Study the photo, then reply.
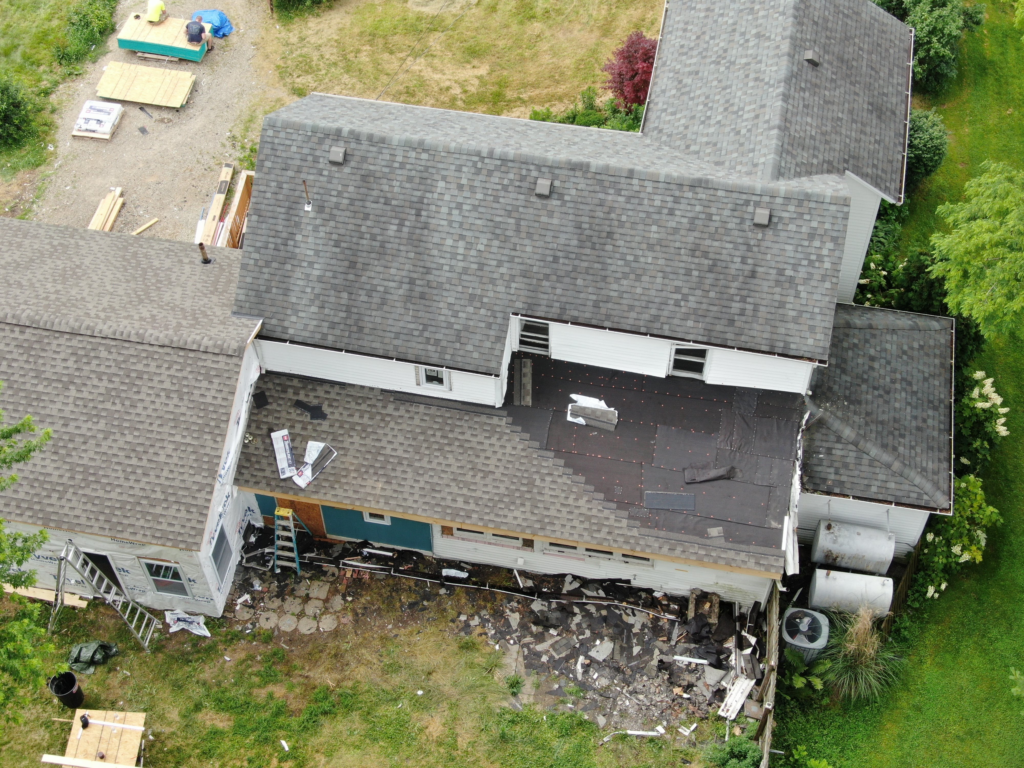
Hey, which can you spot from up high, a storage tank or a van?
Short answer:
storage tank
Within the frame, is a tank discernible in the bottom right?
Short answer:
Yes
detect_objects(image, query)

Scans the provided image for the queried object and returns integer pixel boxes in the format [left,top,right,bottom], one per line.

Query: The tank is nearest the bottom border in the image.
[806,565,894,624]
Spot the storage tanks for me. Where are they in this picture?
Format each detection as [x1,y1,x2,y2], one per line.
[806,565,894,624]
[811,505,897,575]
